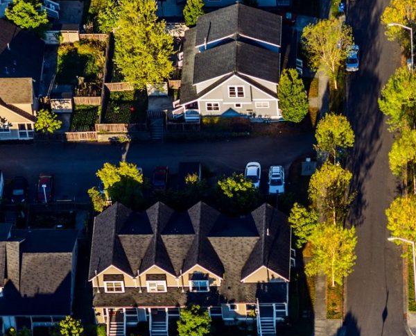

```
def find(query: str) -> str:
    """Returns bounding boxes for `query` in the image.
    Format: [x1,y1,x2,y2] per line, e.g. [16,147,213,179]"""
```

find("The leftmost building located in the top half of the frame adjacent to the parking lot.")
[0,15,52,138]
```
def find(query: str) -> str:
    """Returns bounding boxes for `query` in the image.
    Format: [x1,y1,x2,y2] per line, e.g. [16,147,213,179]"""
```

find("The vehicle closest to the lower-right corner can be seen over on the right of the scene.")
[268,167,285,195]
